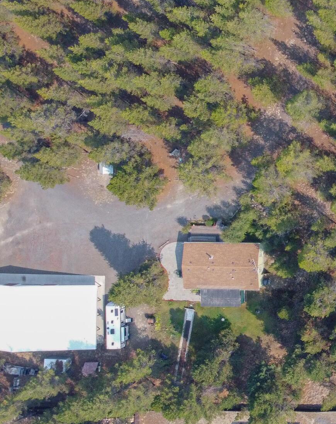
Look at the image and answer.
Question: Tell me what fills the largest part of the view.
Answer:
trees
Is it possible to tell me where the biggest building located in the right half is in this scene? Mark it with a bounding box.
[179,244,264,306]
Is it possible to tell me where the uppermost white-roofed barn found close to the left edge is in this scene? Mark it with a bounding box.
[0,271,106,353]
